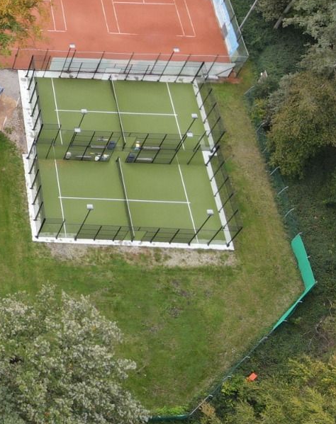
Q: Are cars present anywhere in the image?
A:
No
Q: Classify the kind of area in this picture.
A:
sports ground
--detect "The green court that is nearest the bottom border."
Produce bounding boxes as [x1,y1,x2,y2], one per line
[27,125,243,242]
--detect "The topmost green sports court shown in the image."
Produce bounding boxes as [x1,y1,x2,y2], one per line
[27,43,225,149]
